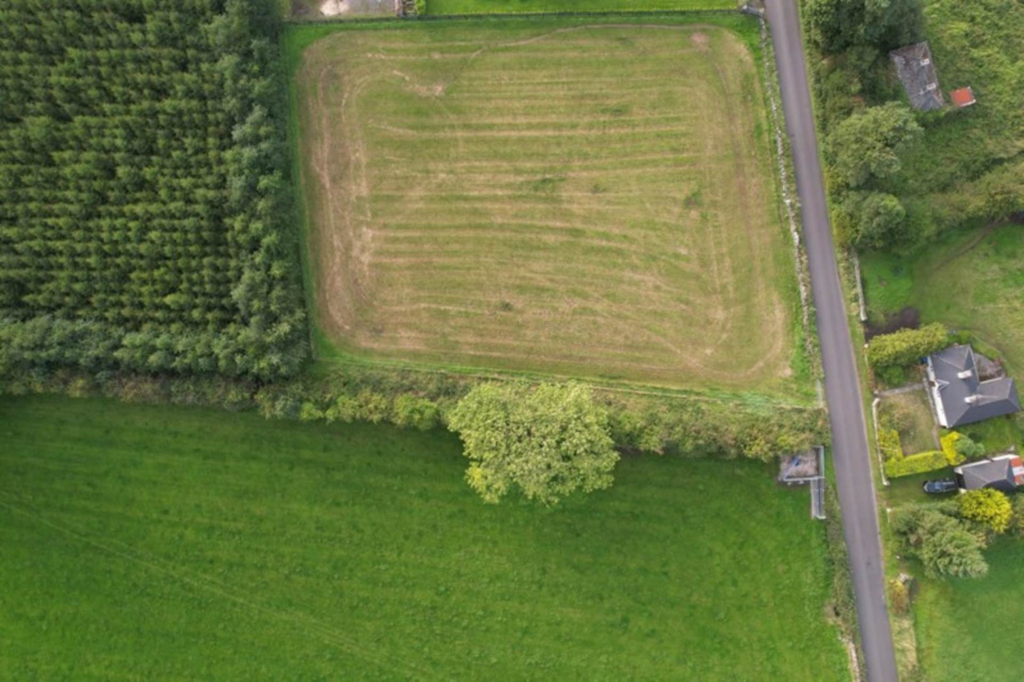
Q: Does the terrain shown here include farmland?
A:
Yes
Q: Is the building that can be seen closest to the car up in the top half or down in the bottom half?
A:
bottom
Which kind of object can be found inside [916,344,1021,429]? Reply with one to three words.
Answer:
house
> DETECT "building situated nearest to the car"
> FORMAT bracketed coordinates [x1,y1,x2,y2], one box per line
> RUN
[952,457,1016,490]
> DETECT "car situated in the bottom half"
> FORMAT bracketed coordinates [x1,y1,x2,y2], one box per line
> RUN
[920,477,958,496]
